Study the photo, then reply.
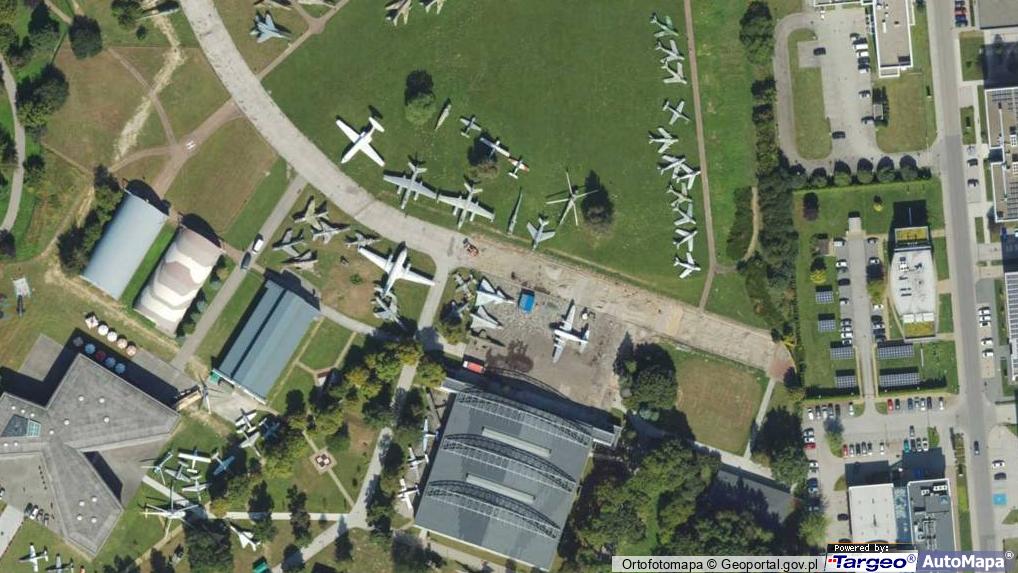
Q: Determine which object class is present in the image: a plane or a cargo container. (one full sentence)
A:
This aerial view contains a plane.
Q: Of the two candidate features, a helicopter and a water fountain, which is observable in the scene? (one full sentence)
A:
There is a helicopter in the scene.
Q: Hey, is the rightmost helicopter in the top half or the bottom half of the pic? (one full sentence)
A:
The rightmost helicopter sits in the top half of the picture.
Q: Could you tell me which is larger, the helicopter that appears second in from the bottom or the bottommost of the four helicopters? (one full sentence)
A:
Compared with the helicopter that appears second in from the bottom, the bottommost of the four helicopters is the bigger one.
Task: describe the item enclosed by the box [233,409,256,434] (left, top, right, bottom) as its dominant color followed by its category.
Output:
white airplane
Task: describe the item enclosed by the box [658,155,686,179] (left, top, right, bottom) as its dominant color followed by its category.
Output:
white airplane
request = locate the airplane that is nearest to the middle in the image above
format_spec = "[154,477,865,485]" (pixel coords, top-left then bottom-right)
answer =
[477,282,517,311]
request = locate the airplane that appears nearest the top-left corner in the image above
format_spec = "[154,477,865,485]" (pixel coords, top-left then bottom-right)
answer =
[136,7,179,21]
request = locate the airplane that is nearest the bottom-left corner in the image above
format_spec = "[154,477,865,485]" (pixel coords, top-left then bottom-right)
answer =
[17,545,47,572]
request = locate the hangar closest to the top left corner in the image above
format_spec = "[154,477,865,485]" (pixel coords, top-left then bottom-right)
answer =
[82,190,169,301]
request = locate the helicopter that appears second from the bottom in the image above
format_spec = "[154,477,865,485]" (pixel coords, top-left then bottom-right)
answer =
[141,454,173,484]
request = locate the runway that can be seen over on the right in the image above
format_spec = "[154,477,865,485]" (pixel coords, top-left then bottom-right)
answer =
[461,236,790,371]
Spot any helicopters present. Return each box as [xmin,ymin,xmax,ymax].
[140,483,198,539]
[200,377,224,415]
[546,171,597,225]
[141,454,173,484]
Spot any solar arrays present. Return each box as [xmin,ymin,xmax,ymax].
[818,320,835,332]
[878,344,914,359]
[836,376,856,388]
[831,348,854,360]
[879,373,920,388]
[816,291,833,304]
